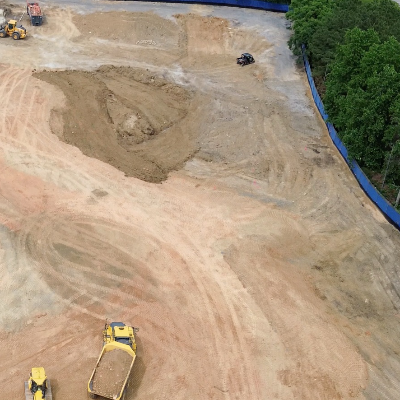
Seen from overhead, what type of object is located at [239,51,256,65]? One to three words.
vehicle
